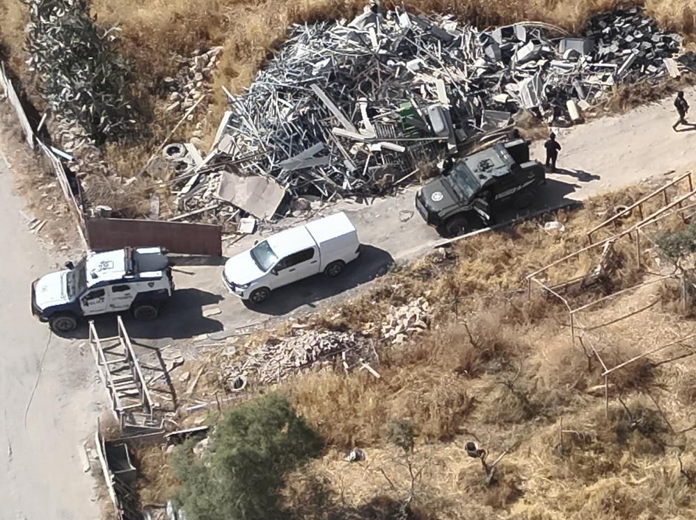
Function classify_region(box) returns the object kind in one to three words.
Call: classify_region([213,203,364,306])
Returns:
truck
